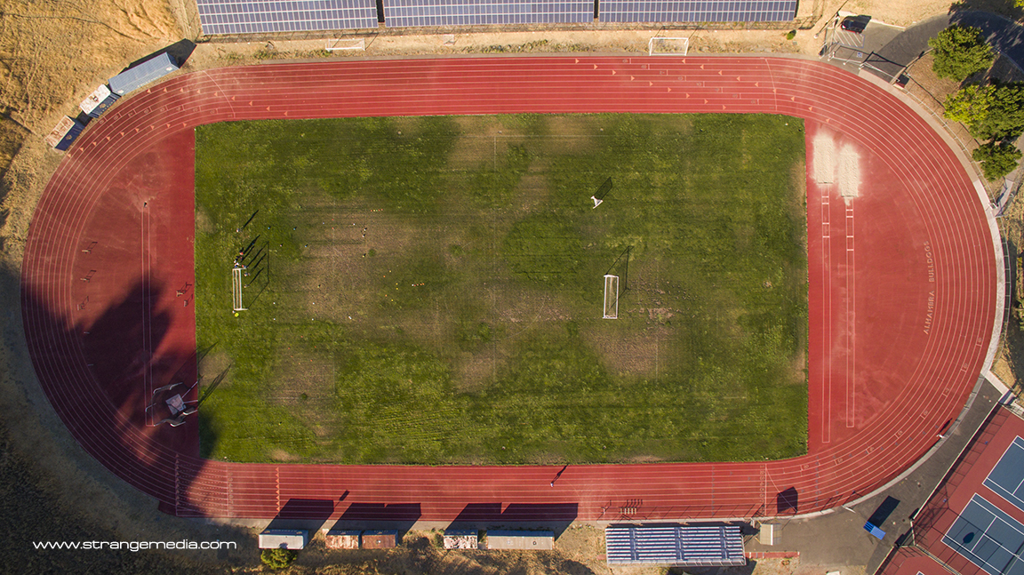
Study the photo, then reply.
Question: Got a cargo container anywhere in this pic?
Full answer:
Yes, there's a cargo container down there.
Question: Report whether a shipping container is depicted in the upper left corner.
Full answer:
Yes, a shipping container can be seen in the upper left corner.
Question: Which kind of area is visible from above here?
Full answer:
This looks like a sports ground.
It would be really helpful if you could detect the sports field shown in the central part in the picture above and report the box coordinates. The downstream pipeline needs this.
[194,112,809,466]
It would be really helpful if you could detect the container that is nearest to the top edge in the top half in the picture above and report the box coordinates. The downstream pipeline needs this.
[107,51,180,97]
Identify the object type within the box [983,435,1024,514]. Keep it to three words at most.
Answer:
tennis court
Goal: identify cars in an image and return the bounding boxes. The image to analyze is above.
[842,18,869,33]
